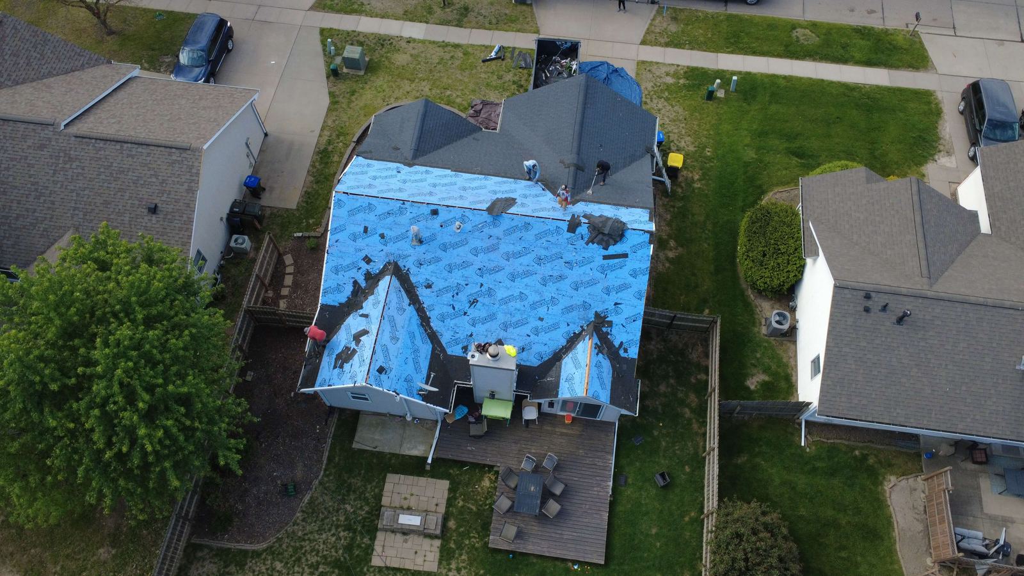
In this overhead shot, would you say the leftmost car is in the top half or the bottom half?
top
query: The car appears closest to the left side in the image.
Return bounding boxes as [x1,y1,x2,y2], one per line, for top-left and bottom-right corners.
[172,13,235,84]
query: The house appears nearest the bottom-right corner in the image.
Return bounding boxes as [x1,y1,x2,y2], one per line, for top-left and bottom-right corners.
[793,140,1024,452]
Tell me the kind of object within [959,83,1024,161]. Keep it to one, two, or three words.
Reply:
car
